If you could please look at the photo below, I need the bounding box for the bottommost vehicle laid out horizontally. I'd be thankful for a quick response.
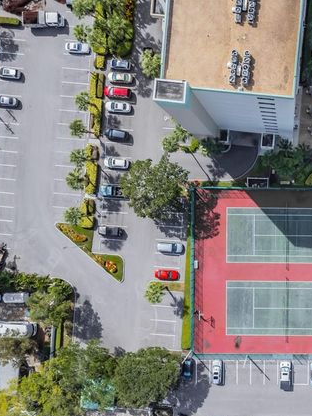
[0,320,43,339]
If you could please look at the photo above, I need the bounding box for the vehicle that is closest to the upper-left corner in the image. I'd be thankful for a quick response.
[20,12,64,29]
